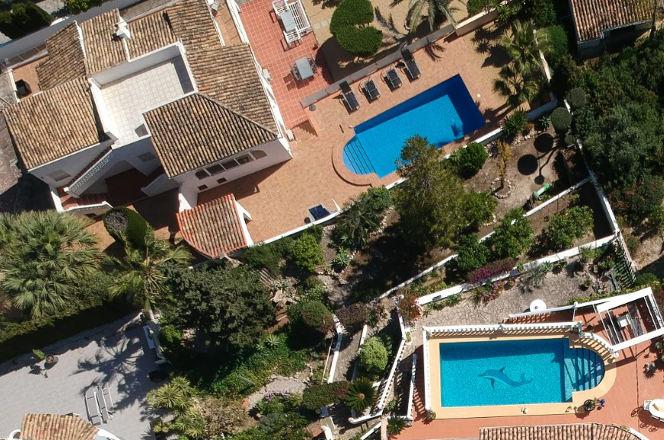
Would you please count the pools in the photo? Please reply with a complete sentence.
The count of pools comes to 2.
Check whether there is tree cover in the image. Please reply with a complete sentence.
Yes, some tree cover is visible.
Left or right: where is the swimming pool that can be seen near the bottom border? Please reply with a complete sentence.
The swimming pool that can be seen near the bottom border is on the right side of the image.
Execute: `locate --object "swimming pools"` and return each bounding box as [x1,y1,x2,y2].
[329,65,495,192]
[430,325,617,418]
